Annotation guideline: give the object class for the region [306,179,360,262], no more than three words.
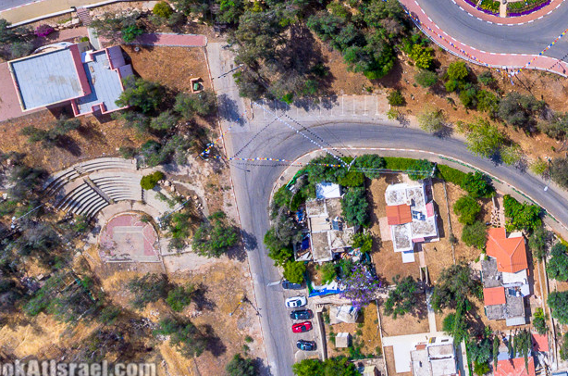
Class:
house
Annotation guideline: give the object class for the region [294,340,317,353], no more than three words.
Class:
vehicle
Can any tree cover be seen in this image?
Yes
